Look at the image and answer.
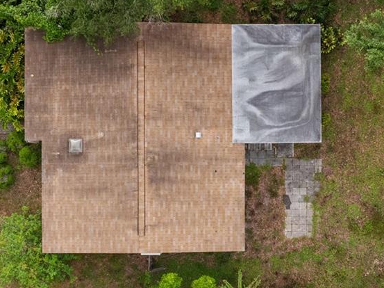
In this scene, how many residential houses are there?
1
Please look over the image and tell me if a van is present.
No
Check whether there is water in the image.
No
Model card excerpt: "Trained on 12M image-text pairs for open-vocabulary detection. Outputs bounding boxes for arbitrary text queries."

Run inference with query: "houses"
[25,24,322,259]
